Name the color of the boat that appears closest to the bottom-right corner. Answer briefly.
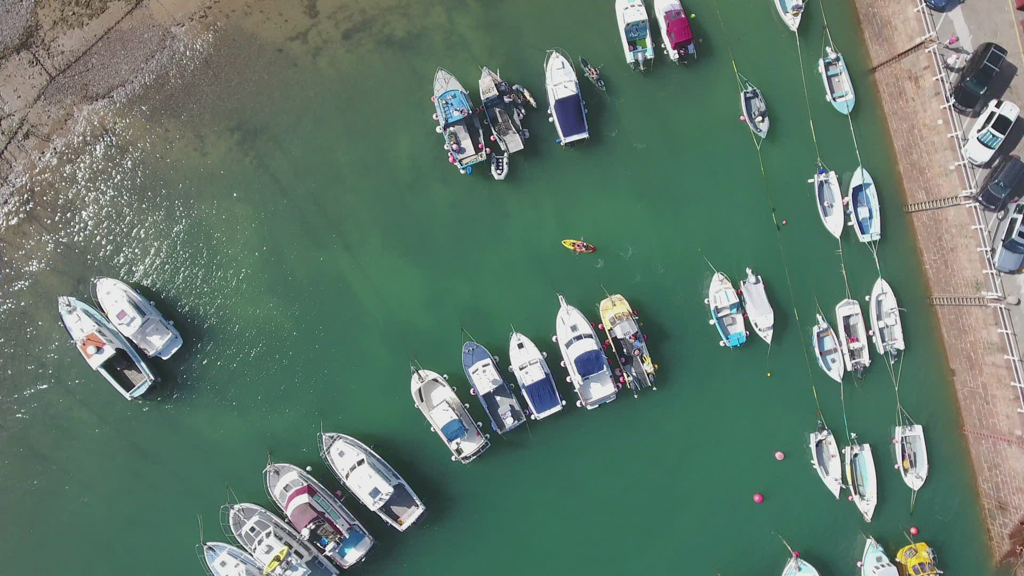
yellow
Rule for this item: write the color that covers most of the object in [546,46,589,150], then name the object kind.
white boat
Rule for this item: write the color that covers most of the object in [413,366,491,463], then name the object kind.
white boat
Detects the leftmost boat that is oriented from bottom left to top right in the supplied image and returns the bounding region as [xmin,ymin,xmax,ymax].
[263,546,288,575]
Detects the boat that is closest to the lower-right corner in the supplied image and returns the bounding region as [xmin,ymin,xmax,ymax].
[895,540,944,576]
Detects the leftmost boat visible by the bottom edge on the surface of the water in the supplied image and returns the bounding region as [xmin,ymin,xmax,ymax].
[196,540,269,576]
